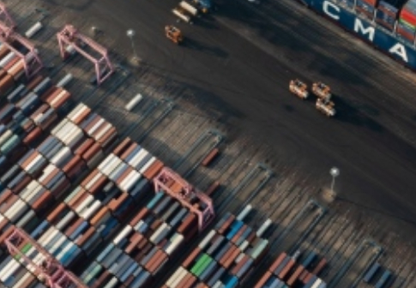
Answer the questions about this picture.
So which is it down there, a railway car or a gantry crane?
gantry crane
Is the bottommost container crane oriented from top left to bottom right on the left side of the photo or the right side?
left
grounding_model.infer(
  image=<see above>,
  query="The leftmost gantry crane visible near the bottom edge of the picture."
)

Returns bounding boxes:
[2,227,68,288]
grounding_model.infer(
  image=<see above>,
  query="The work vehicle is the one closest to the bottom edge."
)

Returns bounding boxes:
[320,96,340,119]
